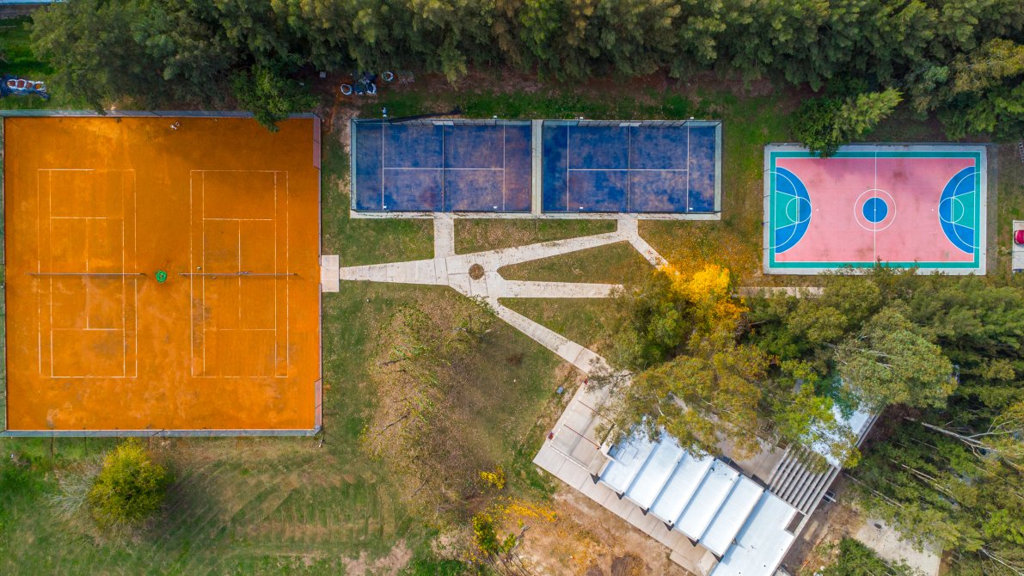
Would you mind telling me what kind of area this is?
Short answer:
sports ground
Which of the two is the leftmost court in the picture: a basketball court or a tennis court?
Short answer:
tennis court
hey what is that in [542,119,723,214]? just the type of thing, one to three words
sports court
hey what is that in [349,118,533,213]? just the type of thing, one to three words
sports court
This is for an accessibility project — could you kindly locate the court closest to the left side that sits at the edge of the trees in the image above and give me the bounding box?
[4,116,163,430]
